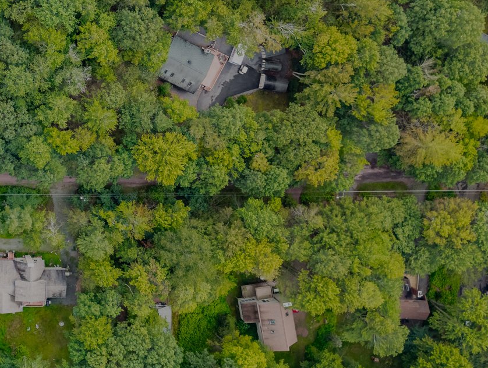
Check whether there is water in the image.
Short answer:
No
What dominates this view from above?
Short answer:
trees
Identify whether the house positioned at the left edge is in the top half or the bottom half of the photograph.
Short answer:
bottom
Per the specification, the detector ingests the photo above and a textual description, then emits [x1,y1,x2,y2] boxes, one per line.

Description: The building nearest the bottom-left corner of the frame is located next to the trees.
[0,251,70,316]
